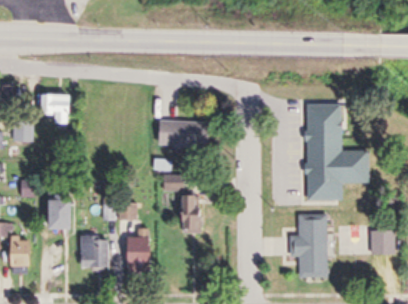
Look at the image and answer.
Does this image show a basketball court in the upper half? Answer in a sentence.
No, looking in the upper half, there is no basketball court.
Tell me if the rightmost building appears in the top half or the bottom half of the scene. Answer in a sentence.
You can find the rightmost building in the bottom half.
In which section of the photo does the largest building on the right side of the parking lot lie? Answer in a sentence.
You can find the largest building on the right side of the parking lot in the right area of the picture.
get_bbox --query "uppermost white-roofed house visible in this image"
[40,94,70,126]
